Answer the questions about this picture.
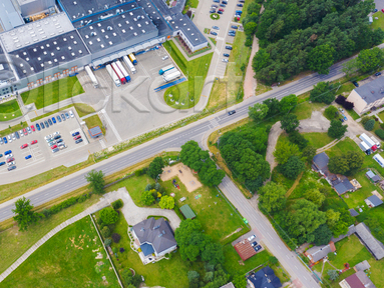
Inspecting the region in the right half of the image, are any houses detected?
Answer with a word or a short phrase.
Yes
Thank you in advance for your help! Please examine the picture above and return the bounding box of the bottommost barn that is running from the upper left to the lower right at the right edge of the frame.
[354,222,384,260]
